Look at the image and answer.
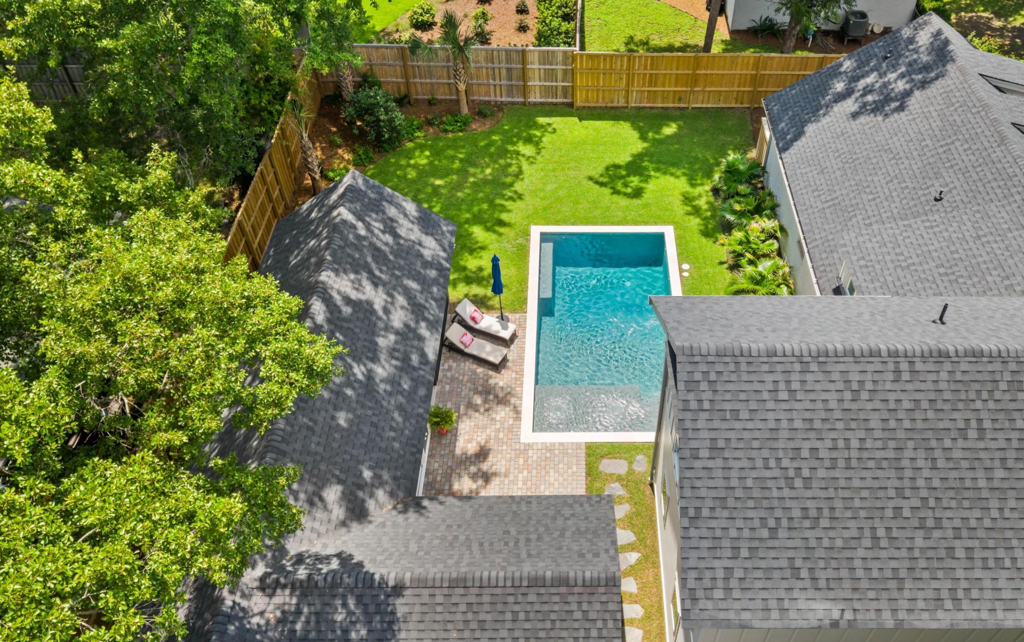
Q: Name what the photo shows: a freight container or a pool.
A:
pool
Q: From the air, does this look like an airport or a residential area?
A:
residential area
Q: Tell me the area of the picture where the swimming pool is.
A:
center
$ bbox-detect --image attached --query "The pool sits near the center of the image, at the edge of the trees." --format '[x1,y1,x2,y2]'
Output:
[521,224,684,442]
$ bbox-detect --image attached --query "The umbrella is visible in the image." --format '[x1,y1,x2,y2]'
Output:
[490,253,515,323]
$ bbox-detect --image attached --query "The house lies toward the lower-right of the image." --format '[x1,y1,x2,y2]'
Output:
[641,295,1024,642]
